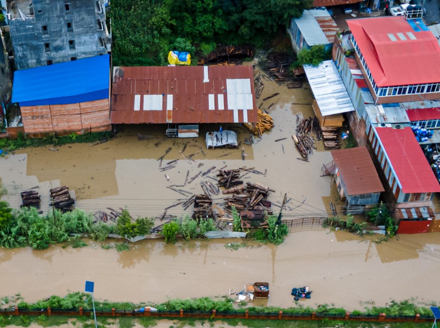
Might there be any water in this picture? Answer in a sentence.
Yes, some water is visible.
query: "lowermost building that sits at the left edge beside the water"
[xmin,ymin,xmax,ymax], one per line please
[13,54,111,131]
